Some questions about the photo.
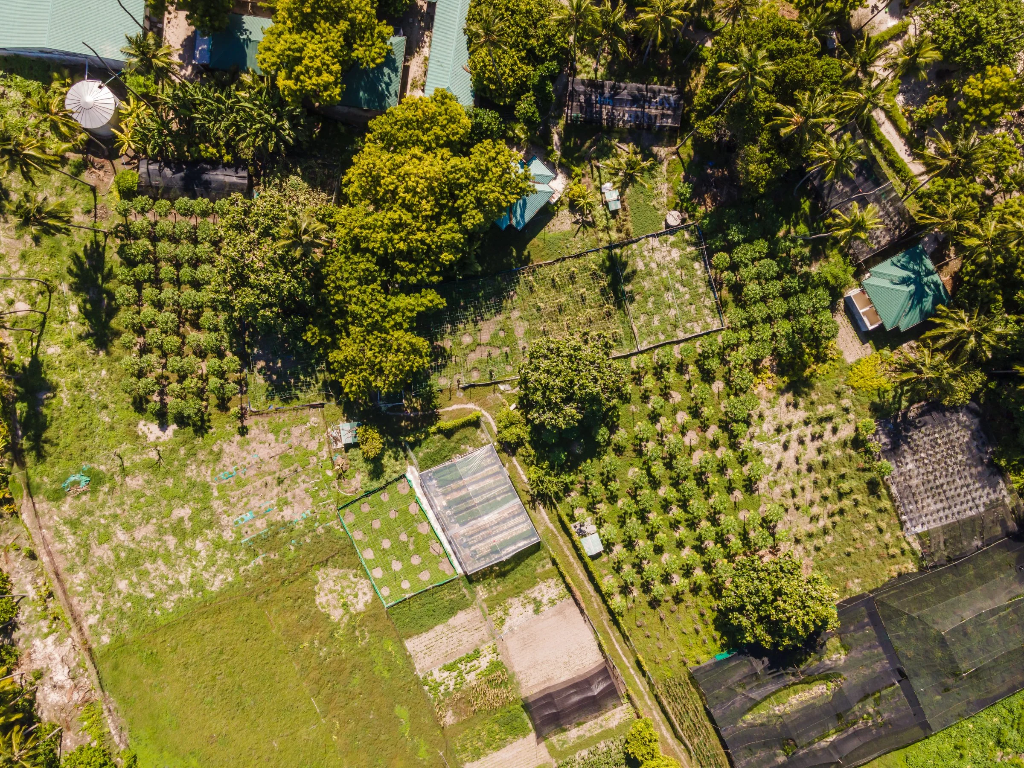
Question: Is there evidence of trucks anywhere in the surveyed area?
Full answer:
No, I can see no truck in this picture.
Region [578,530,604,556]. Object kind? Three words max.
shed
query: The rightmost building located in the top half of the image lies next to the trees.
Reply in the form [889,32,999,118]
[854,242,954,331]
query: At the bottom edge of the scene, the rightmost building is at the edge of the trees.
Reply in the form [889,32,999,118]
[872,532,1024,745]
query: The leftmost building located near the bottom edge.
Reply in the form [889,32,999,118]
[691,596,932,768]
